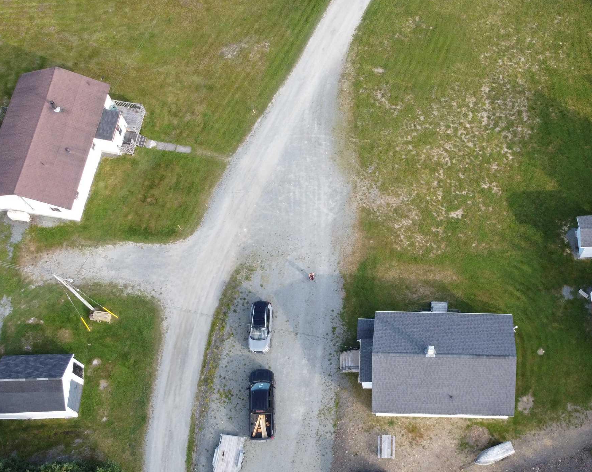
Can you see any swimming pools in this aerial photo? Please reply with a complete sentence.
No, this view has no swimming pool in it.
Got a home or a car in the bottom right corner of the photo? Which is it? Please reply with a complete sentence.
It is a home that can be seen in the bottom right corner of the photo.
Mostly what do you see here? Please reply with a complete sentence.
For the most part, this view shows grass.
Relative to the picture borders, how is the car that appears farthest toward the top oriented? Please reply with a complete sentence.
I'd say the car that appears farthest toward the top is aligned from top to bottom in the picture.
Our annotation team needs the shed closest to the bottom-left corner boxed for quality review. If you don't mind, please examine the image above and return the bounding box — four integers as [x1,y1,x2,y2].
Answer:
[0,354,84,419]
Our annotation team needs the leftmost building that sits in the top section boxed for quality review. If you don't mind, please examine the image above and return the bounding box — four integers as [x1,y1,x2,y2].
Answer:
[0,66,129,222]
